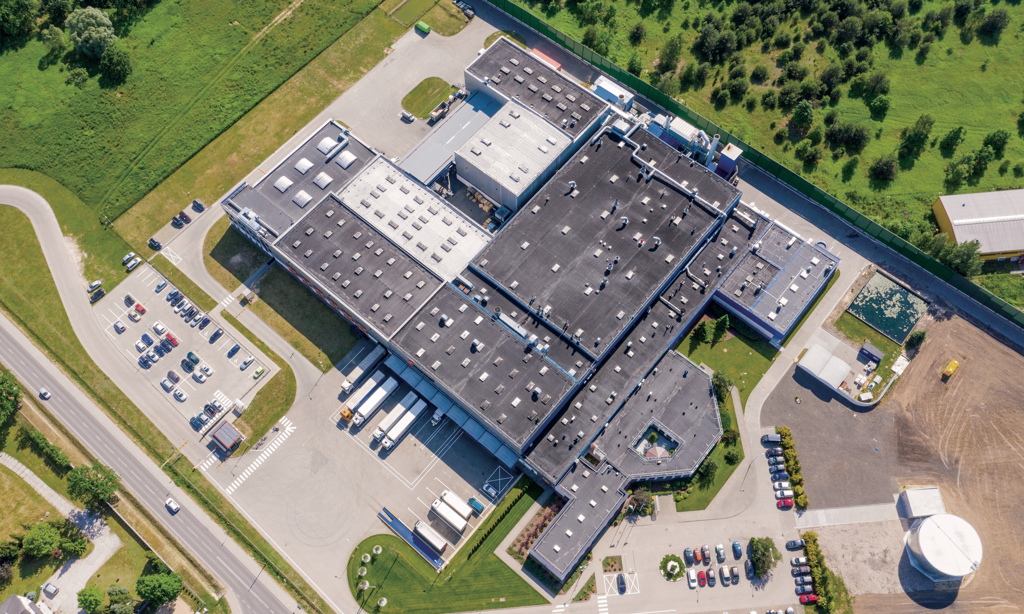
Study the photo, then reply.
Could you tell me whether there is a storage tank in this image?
Yes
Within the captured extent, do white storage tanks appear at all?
Yes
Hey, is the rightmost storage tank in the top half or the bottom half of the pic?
bottom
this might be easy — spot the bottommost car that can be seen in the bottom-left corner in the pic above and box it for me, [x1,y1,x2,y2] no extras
[43,582,60,596]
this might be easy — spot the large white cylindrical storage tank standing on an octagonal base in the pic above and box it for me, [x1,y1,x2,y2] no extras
[905,513,983,585]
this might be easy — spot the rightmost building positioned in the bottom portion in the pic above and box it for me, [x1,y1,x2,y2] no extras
[900,487,947,520]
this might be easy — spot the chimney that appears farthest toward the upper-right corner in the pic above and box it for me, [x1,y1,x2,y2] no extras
[706,134,720,165]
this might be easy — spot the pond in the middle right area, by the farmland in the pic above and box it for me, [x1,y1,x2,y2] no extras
[848,271,929,344]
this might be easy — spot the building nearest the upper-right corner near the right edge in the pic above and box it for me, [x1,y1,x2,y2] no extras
[932,189,1024,261]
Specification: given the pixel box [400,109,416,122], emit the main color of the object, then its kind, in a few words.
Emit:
gray vehicle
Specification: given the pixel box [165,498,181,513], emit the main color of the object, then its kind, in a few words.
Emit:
white car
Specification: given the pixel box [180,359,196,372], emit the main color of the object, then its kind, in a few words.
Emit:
black vehicle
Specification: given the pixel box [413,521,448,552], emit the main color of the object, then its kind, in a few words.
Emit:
white truck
